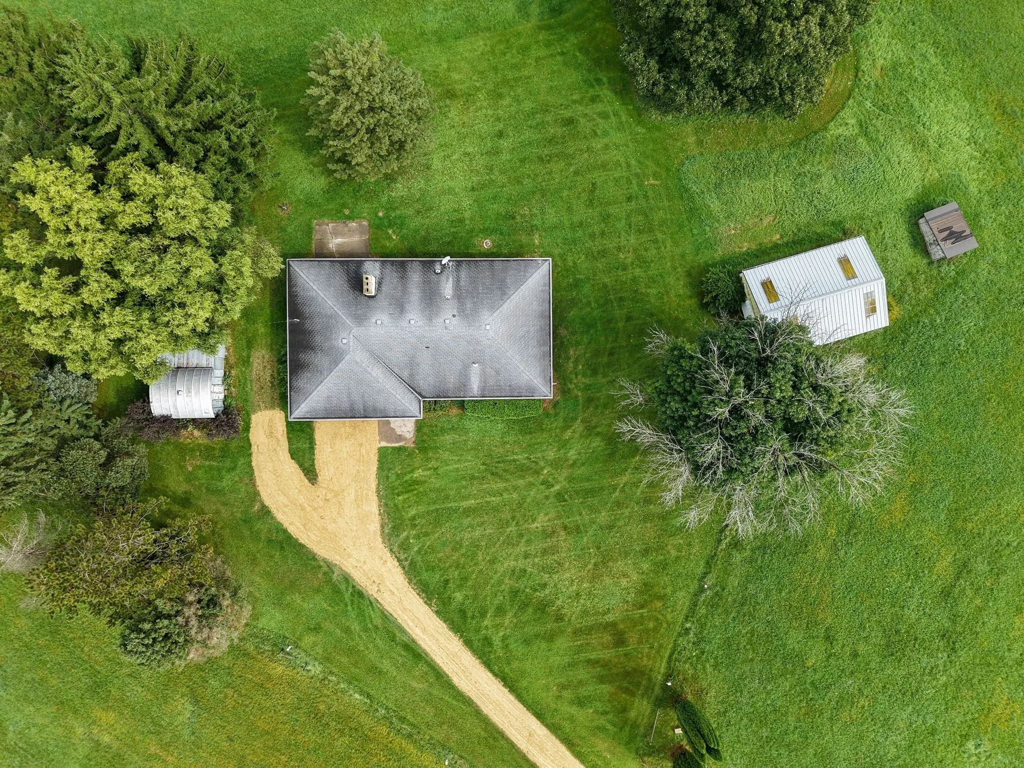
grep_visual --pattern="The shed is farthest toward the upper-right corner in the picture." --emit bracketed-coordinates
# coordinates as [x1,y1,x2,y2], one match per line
[913,202,979,259]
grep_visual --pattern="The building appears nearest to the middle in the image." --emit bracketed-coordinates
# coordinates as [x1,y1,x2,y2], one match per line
[286,256,557,422]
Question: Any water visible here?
No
